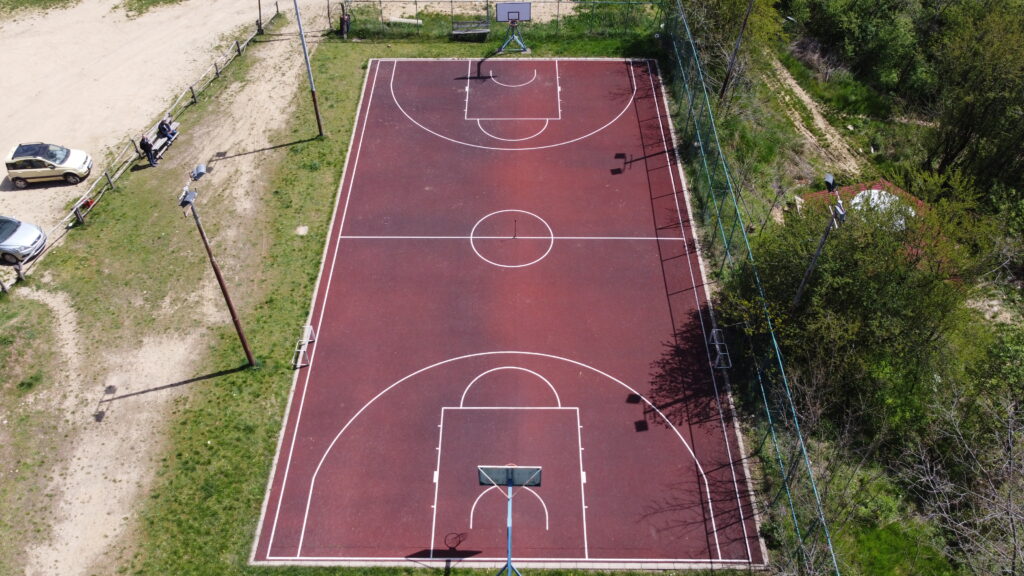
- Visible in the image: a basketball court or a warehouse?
basketball court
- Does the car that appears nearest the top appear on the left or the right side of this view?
left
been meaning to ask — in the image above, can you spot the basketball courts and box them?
[247,57,771,571]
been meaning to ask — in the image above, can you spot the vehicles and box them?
[0,212,50,264]
[1,142,93,189]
